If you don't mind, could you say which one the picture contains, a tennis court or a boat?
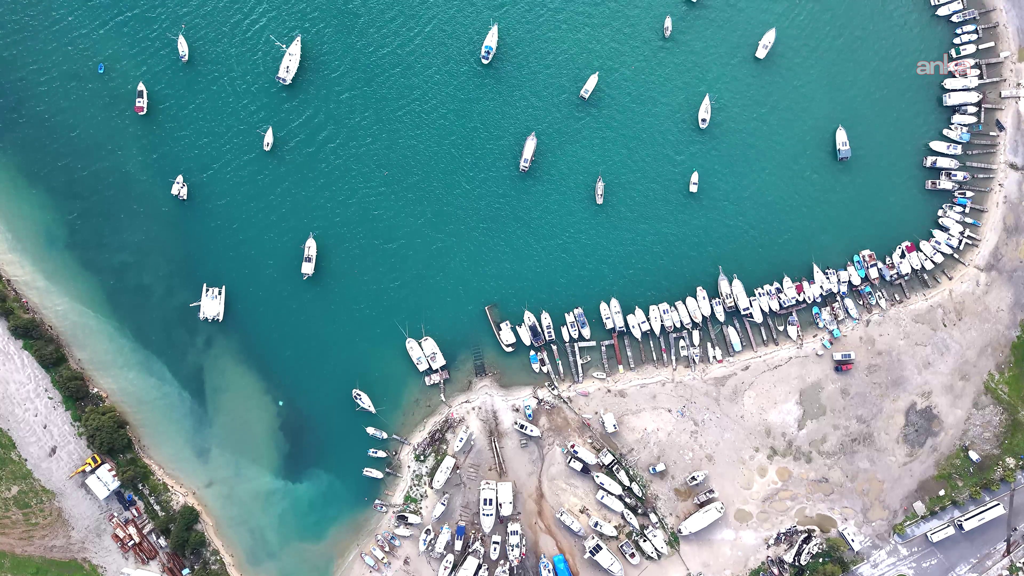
boat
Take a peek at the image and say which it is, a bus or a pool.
bus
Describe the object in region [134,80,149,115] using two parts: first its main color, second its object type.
white boat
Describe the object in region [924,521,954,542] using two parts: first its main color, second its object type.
white bus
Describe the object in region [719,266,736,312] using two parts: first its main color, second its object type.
white boat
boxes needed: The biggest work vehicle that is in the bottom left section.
[68,452,106,481]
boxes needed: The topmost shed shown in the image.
[84,463,123,500]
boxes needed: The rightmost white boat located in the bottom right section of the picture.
[966,450,983,464]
